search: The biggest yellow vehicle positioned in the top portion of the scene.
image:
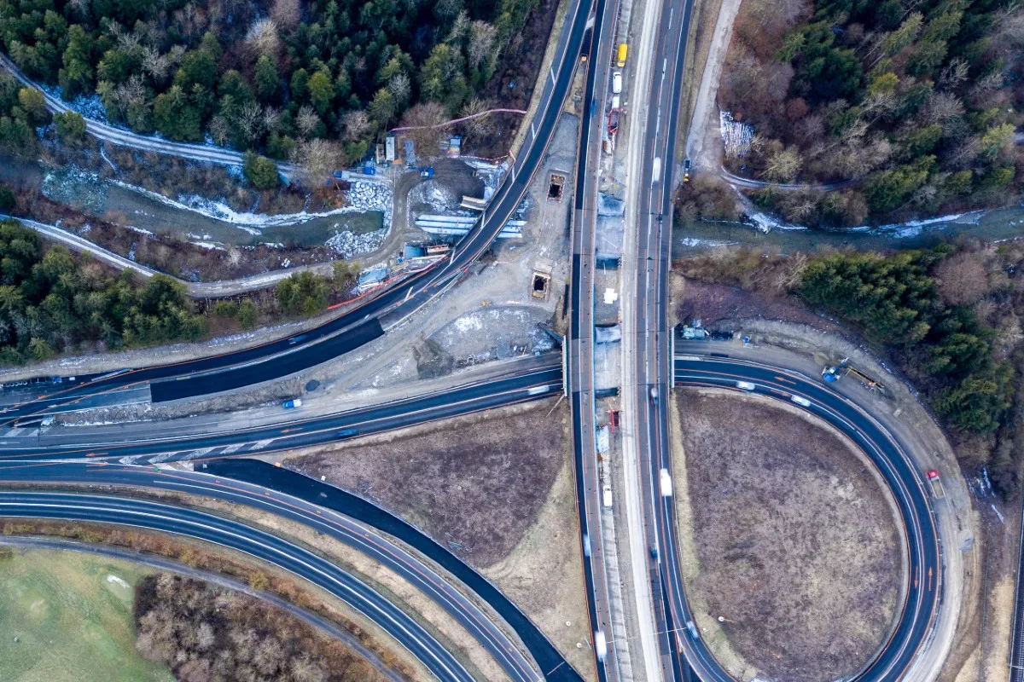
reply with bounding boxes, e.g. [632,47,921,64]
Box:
[617,39,629,65]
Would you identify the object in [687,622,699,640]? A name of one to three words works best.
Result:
vehicle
